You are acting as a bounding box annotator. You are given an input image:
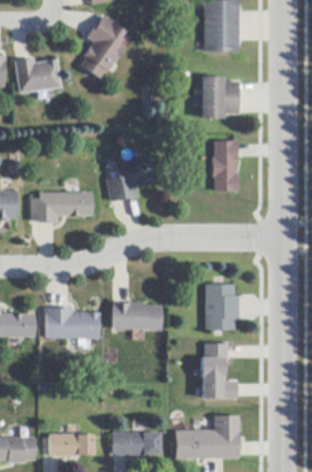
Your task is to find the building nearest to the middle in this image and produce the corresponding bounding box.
[106,163,140,200]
